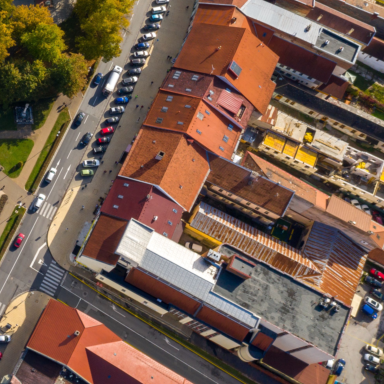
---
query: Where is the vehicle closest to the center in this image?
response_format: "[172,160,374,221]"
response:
[184,241,202,254]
